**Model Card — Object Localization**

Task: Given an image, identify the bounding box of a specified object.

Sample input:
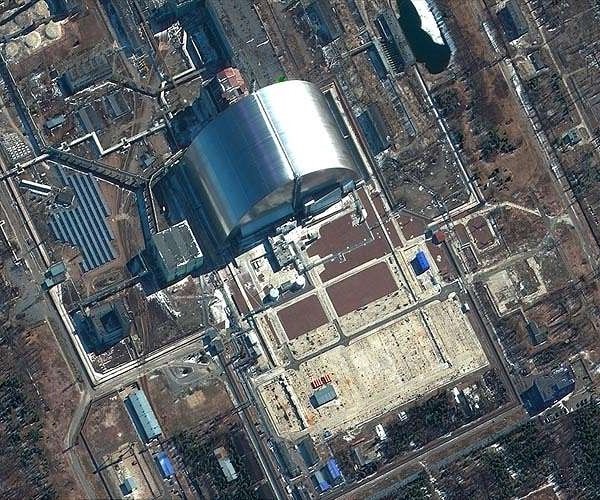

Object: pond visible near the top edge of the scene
[397,0,452,74]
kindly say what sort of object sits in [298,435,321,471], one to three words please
building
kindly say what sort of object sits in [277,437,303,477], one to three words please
shed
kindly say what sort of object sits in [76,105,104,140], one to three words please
building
